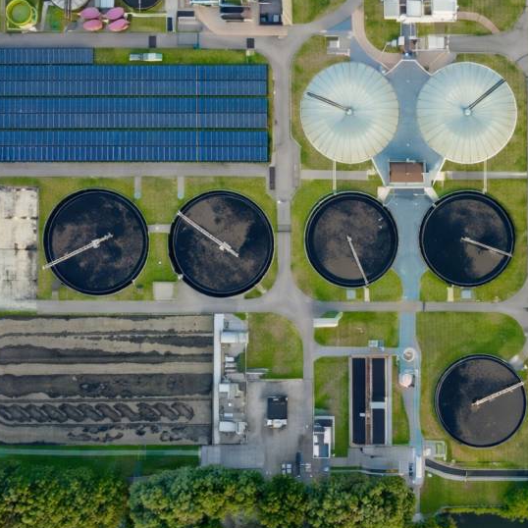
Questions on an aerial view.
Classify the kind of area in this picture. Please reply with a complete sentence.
The picture captures an industrial area.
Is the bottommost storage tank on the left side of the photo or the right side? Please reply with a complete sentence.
It is on the right.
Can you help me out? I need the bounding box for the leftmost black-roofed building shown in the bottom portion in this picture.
[268,395,289,419]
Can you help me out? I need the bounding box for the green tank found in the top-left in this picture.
[7,0,41,31]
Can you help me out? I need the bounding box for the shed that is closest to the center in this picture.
[221,329,250,343]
